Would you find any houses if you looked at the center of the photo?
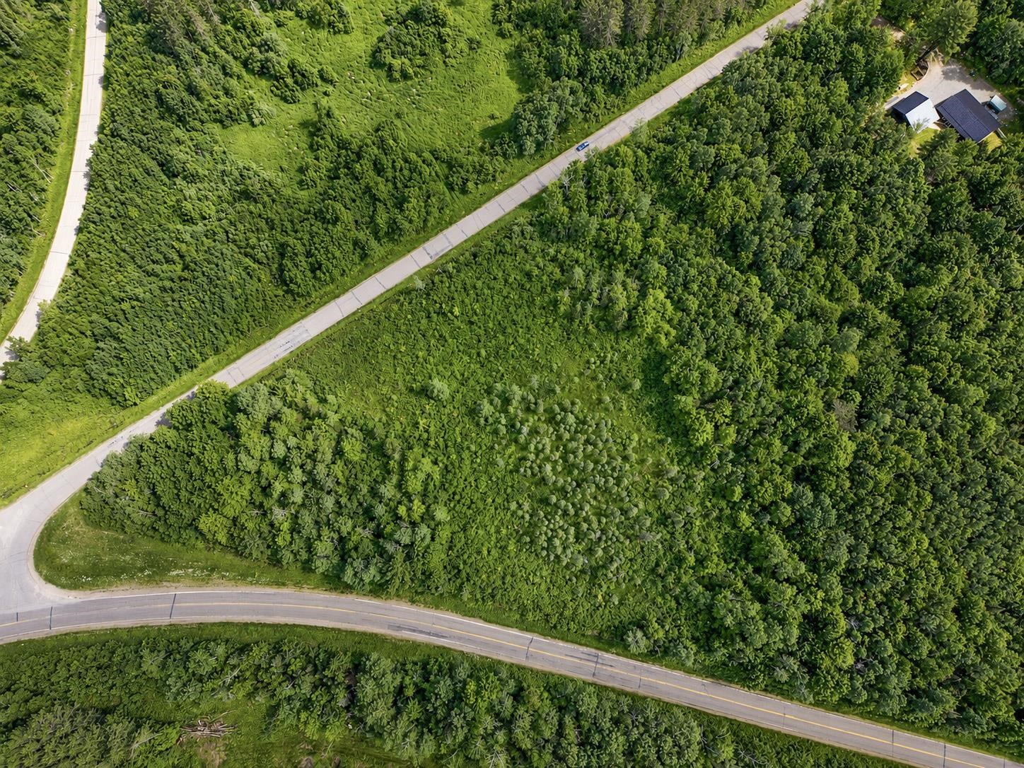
No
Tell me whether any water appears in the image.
No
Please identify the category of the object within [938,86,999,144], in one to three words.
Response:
house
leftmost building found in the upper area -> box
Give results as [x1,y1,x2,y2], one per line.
[892,89,940,133]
